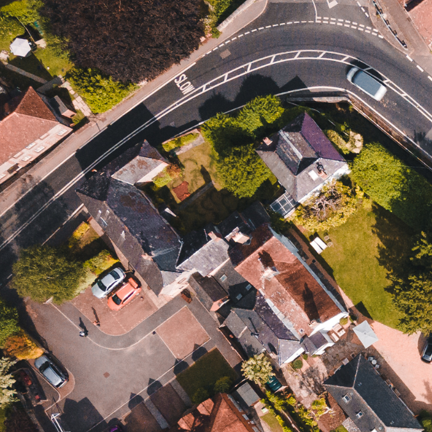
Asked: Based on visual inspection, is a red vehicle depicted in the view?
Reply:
Yes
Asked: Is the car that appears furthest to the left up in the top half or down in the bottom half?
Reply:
bottom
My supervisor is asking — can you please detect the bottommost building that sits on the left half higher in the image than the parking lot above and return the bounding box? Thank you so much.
[74,135,231,297]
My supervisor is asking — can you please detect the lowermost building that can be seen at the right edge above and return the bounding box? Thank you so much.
[323,353,424,432]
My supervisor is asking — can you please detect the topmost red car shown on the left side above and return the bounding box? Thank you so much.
[106,279,144,310]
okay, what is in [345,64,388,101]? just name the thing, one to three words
car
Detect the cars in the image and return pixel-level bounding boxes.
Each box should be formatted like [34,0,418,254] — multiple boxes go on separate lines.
[106,279,144,310]
[345,64,388,101]
[35,350,72,393]
[417,331,432,370]
[90,264,133,299]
